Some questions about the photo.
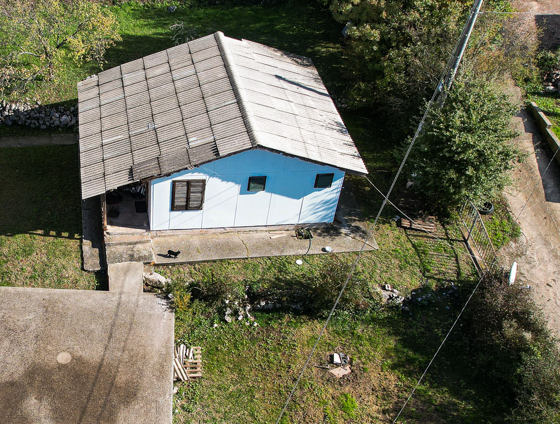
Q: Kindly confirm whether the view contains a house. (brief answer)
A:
Yes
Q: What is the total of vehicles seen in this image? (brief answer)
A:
0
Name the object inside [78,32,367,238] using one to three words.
house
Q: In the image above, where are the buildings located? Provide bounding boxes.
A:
[78,32,367,238]
[0,288,174,424]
